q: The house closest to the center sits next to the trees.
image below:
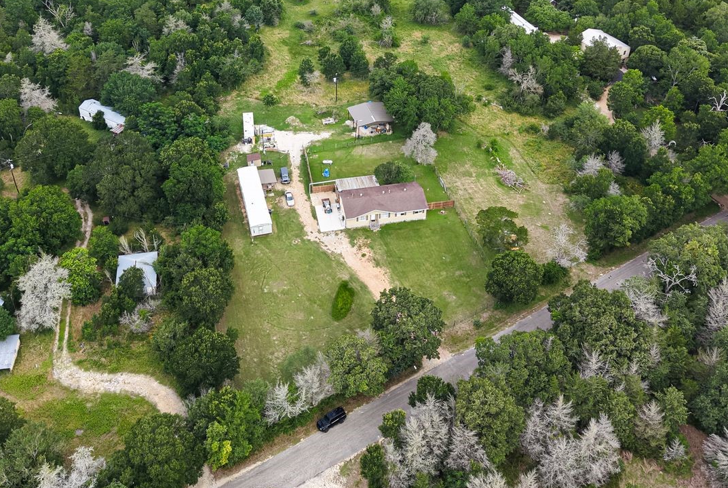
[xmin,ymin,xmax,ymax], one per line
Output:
[335,182,429,232]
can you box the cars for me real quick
[280,167,290,184]
[285,192,296,207]
[316,406,348,433]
